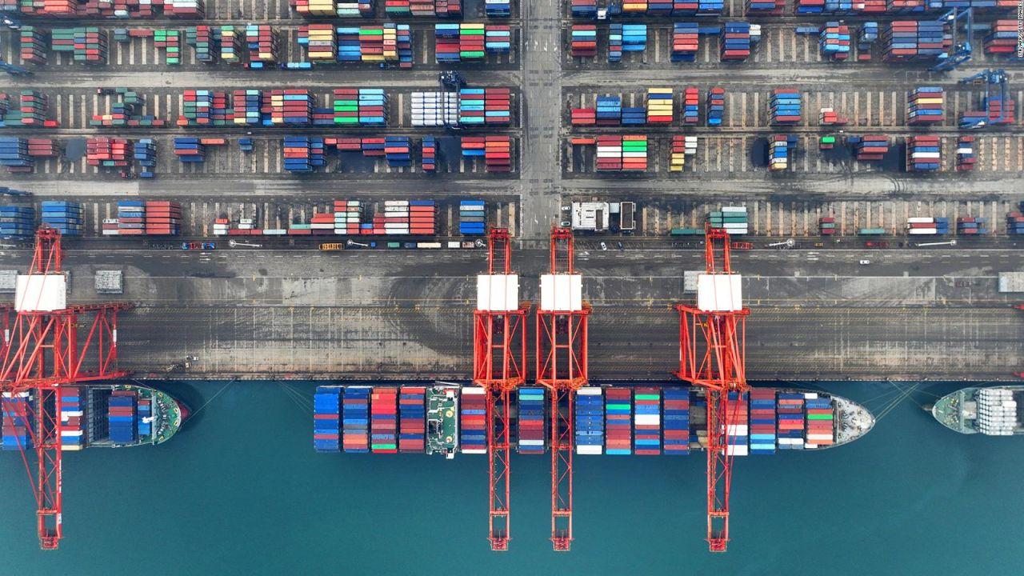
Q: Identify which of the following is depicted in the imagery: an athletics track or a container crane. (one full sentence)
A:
It is a container crane that can be seen here.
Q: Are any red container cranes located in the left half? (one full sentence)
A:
Yes, the scene does show a red container crane in the left half.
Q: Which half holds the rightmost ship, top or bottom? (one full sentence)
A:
Seen from above, the rightmost ship lies in the bottom half of the view.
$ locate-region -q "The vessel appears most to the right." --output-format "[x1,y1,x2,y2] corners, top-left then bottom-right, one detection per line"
[920,384,1024,435]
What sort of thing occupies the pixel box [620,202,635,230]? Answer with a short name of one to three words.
shed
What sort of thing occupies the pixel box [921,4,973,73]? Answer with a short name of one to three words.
crane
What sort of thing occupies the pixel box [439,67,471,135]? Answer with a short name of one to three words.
crane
